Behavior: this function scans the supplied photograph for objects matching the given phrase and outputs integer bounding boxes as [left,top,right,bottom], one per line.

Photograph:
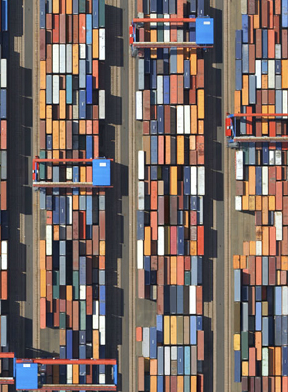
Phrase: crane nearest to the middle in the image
[29,156,113,198]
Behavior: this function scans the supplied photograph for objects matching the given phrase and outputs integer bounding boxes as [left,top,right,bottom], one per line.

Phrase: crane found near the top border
[129,17,214,60]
